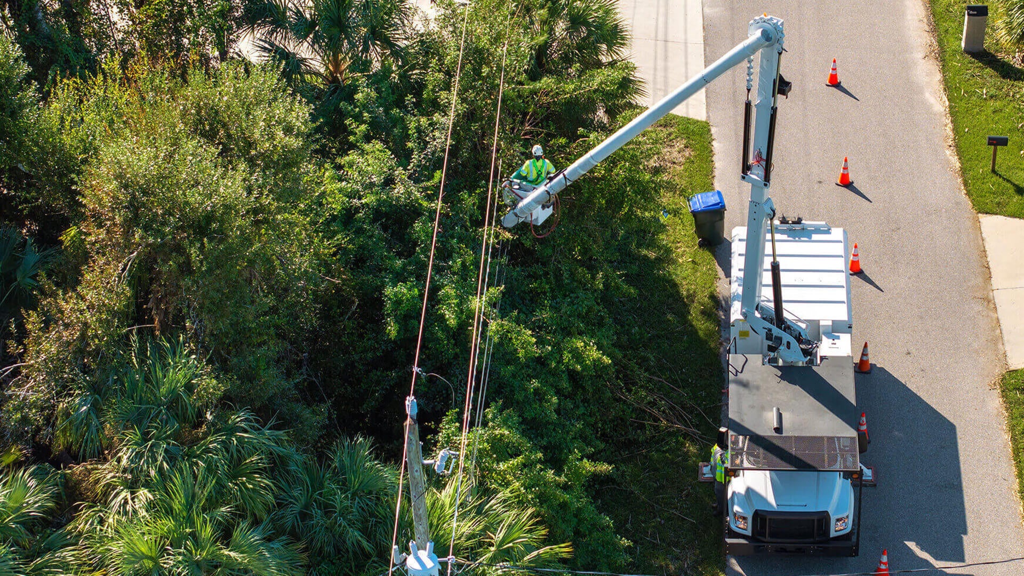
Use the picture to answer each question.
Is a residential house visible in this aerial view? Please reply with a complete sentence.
No, there is no residential house in the image.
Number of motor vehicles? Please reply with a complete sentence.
Altogether the scene contains 1 motor vehicle.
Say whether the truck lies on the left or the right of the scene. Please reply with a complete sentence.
The truck sits on the right side.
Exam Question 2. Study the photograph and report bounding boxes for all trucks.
[500,15,880,566]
